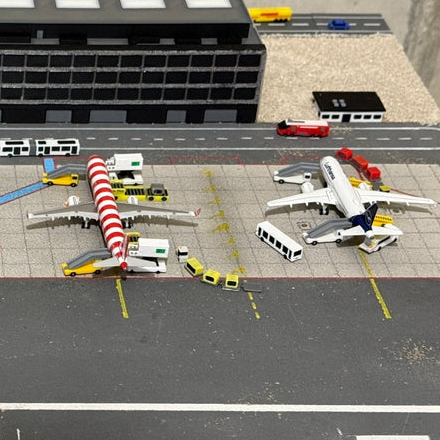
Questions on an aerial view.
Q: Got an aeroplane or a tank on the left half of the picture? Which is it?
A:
aeroplane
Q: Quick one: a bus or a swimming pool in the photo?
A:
bus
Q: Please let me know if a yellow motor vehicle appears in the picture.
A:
Yes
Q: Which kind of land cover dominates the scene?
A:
paved ground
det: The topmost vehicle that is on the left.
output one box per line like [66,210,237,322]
[0,138,80,156]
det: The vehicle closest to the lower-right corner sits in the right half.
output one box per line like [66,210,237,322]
[364,234,395,252]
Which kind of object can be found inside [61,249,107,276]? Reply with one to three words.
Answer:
truck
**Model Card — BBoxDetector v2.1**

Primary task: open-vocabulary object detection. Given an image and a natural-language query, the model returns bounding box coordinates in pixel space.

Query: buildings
[312,92,387,122]
[0,0,267,123]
